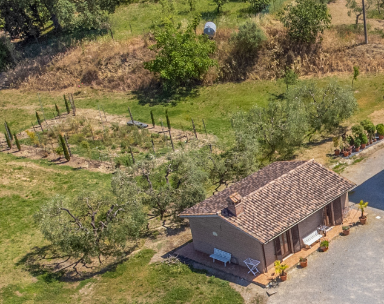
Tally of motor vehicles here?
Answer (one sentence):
The photo contains no motor vehicles.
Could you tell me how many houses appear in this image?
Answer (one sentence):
The count comes to 1 house.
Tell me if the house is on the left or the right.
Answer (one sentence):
The house appears in the right half of the scene.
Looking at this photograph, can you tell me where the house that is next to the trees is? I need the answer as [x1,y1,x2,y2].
[177,158,358,271]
